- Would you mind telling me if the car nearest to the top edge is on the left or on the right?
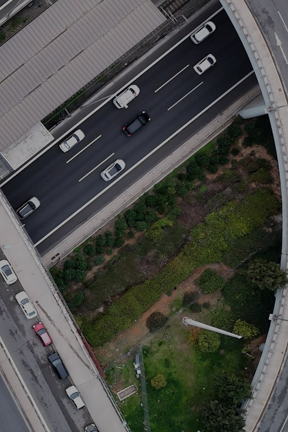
right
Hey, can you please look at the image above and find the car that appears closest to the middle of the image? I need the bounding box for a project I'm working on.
[98,157,128,184]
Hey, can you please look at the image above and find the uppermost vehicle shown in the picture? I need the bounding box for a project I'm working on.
[187,18,218,48]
